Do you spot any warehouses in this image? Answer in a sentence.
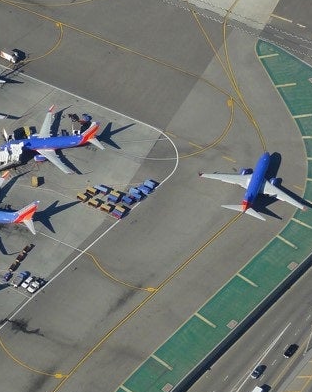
No, I can see no warehouse in this picture.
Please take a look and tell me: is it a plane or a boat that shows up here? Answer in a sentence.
This aerial view contains a plane.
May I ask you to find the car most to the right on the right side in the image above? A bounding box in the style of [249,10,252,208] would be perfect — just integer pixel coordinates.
[284,344,298,358]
